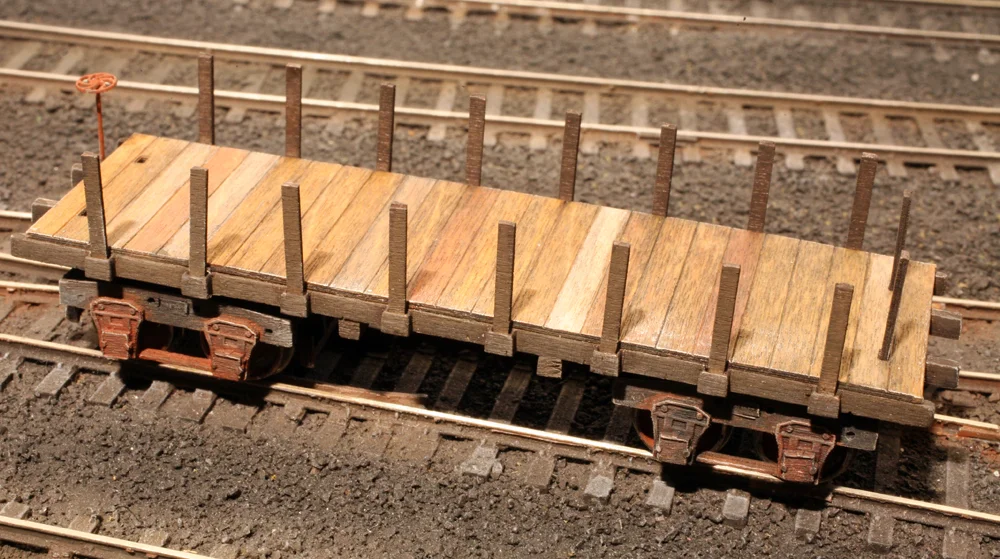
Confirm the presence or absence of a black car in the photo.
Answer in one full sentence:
No, there appears to be no black car in this shot.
